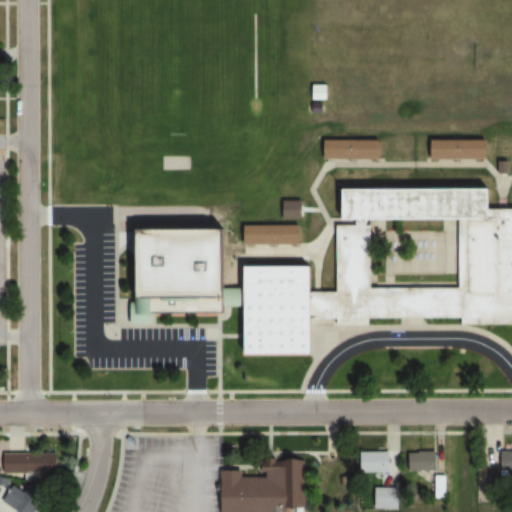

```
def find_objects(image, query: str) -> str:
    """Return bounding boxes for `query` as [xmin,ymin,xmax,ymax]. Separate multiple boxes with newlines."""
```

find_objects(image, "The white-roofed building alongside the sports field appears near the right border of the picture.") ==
[310,188,512,326]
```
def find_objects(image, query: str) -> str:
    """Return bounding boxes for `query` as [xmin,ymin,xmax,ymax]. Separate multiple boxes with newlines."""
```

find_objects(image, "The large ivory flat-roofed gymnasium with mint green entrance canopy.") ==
[130,228,241,325]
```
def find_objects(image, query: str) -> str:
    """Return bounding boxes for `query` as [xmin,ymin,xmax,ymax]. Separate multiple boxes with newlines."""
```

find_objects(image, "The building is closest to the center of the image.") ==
[244,224,302,248]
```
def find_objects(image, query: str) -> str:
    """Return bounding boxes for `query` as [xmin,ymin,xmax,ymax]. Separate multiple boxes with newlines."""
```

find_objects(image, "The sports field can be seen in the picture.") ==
[53,0,300,202]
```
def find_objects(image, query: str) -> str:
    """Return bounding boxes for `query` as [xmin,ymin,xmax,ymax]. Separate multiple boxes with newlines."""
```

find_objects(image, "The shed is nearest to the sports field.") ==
[283,200,302,219]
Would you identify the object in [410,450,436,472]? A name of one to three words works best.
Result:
house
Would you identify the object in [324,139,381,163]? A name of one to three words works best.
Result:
building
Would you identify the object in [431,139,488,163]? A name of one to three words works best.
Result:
building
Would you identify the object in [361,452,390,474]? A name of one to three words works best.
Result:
house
